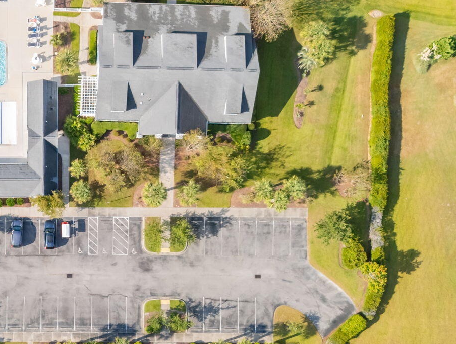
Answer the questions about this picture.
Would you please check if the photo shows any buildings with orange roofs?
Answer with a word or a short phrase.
No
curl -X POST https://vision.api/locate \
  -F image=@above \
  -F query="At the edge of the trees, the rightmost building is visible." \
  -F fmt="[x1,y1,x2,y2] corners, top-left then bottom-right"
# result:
[95,3,259,142]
